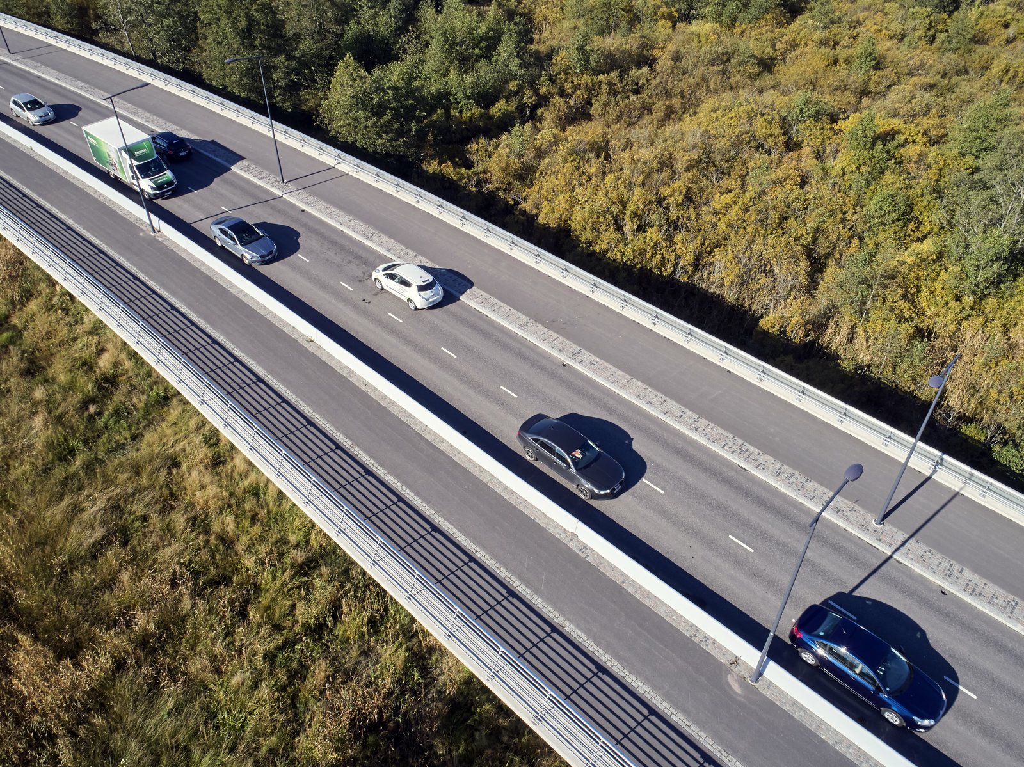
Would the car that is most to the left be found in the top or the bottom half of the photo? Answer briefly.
top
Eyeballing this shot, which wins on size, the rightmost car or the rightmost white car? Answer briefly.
the rightmost car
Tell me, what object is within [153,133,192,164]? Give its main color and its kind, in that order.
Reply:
black car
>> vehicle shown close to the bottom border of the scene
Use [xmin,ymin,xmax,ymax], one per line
[791,603,945,730]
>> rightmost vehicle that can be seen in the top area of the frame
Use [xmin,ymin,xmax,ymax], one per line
[374,262,442,310]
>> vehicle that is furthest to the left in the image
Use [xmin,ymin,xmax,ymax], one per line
[9,92,55,126]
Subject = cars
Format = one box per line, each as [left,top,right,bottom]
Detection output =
[153,133,192,164]
[374,262,442,310]
[518,413,623,500]
[791,603,945,730]
[9,92,55,126]
[210,216,278,265]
